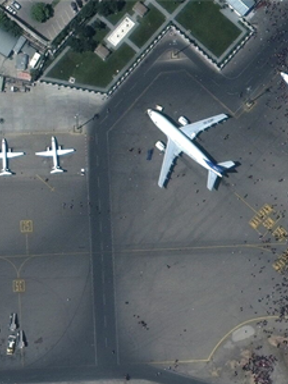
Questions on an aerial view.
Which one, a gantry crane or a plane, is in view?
plane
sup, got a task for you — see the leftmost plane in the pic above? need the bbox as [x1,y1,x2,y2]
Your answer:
[0,139,25,175]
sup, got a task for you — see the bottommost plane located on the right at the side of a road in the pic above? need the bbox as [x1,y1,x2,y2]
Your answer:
[147,109,236,191]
